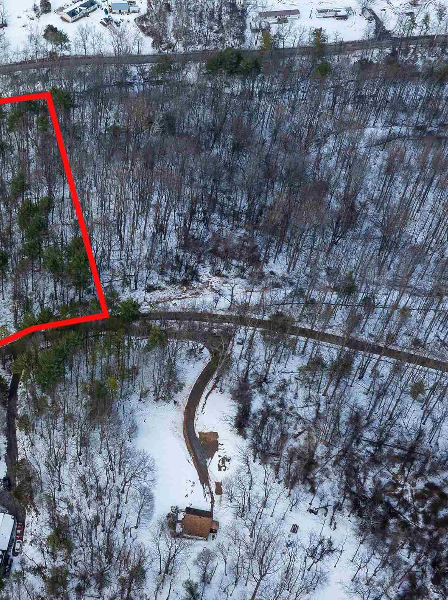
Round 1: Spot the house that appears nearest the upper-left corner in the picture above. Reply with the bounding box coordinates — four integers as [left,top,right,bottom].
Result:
[57,0,100,23]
